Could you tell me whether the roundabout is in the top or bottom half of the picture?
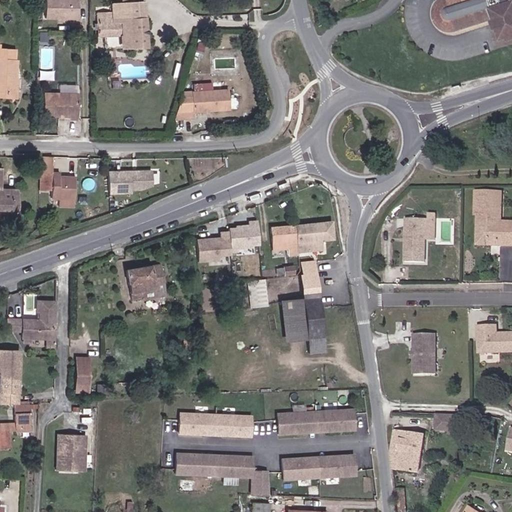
top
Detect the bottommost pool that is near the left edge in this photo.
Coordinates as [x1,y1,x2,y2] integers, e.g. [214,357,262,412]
[24,294,36,314]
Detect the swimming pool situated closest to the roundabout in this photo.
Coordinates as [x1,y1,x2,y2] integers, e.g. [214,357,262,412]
[437,218,454,244]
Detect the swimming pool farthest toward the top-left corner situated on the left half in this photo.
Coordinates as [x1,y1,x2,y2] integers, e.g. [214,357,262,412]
[39,46,54,70]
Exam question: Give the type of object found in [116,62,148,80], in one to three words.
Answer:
swimming pool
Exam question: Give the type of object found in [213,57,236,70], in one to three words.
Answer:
swimming pool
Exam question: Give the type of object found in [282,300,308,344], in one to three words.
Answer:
barn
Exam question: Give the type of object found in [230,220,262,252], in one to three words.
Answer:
house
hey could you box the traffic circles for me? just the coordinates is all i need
[302,78,460,206]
